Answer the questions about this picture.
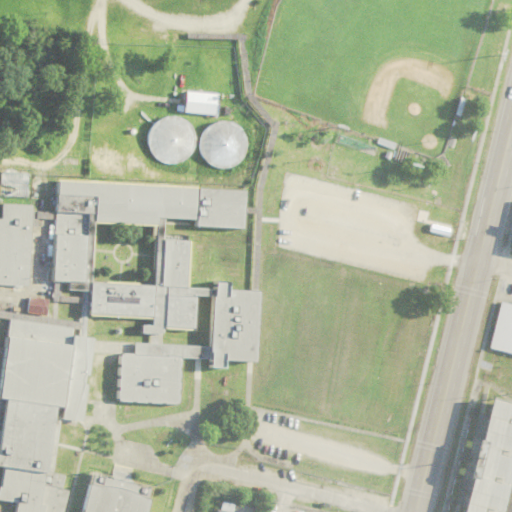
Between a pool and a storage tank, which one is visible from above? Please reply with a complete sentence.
Of the two, only a storage tank appears.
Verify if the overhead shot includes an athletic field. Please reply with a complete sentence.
Yes, there is an athletic field in the image.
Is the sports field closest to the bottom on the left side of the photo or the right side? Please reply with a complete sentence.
It is on the right.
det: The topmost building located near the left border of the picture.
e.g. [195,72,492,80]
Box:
[0,170,32,198]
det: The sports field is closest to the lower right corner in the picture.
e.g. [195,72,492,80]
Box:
[251,247,445,442]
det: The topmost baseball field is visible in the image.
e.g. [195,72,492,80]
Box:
[254,0,498,156]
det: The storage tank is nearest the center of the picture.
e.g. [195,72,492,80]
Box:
[199,120,248,170]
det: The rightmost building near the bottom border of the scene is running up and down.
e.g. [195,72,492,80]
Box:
[462,395,512,512]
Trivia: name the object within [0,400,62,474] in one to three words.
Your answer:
building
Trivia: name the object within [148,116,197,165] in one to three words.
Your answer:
storage tank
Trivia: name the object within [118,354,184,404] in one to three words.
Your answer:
building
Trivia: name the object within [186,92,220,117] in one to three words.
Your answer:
shed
